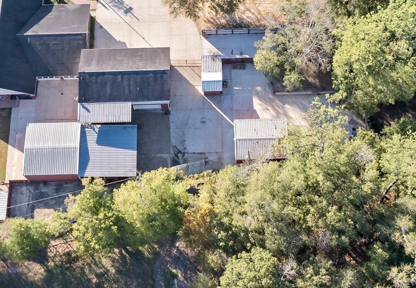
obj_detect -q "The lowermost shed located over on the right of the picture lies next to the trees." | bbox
[232,117,288,165]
